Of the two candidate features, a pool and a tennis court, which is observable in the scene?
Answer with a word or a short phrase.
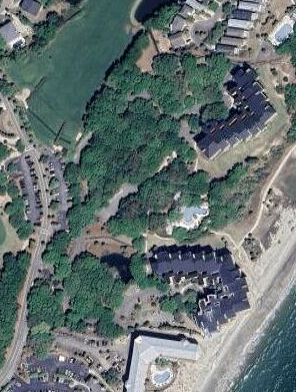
pool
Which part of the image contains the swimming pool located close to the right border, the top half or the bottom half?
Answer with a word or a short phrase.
top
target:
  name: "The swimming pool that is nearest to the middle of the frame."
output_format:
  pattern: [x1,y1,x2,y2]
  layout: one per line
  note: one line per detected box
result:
[167,203,210,235]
